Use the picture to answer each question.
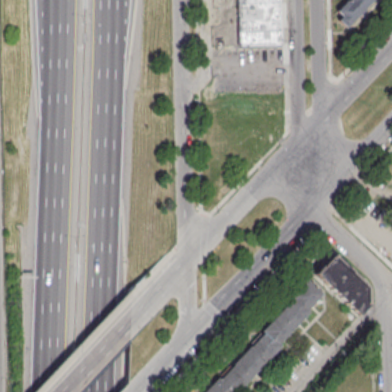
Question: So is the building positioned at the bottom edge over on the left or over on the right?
right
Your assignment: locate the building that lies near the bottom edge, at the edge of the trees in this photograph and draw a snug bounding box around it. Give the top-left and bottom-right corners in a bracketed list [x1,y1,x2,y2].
[204,280,324,392]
